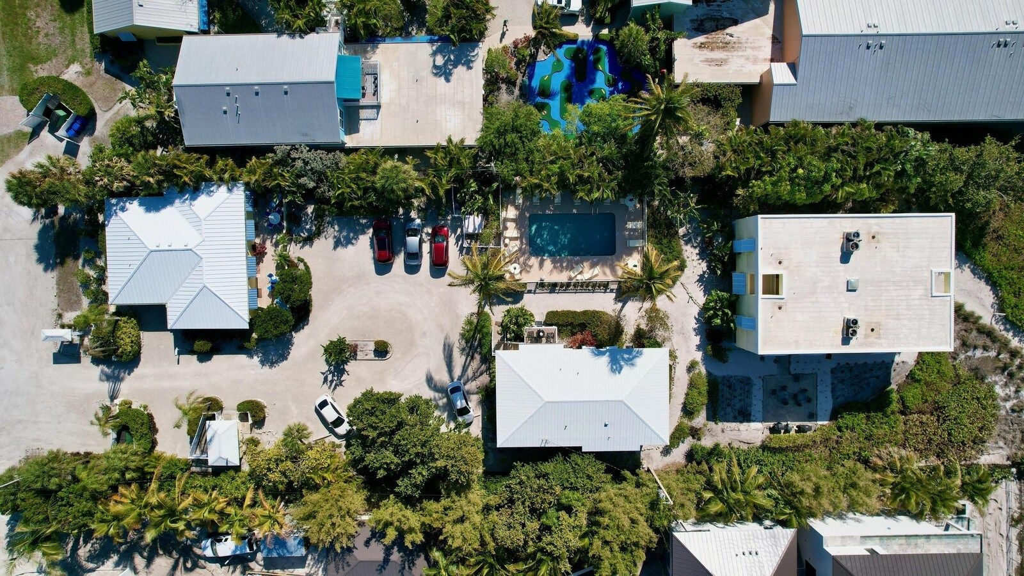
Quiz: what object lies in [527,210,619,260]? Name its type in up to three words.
swimming pool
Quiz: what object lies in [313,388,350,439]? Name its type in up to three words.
car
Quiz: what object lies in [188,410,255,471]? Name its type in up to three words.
shed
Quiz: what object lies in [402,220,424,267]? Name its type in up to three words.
car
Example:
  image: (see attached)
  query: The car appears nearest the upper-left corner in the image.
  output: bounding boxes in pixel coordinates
[370,219,396,267]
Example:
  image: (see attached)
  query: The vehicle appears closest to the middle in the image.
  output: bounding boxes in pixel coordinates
[429,224,452,270]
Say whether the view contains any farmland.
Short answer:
No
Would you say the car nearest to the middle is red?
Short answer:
Yes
